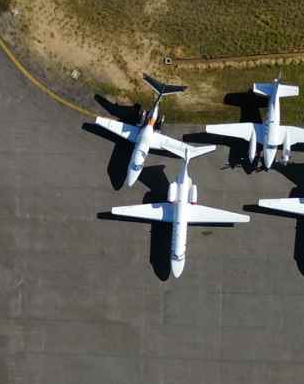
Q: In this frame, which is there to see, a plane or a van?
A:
plane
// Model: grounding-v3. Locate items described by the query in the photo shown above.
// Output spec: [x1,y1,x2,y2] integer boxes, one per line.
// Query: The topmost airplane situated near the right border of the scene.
[206,72,304,168]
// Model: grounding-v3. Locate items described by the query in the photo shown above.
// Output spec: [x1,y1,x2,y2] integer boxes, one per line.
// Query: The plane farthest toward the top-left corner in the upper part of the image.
[94,73,198,186]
